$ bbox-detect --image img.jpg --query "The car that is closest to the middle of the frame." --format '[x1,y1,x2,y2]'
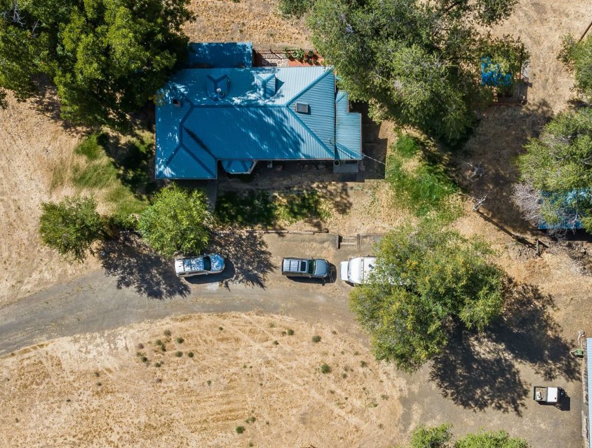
[282,257,330,280]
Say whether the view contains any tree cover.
Yes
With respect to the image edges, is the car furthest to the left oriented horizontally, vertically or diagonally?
horizontally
